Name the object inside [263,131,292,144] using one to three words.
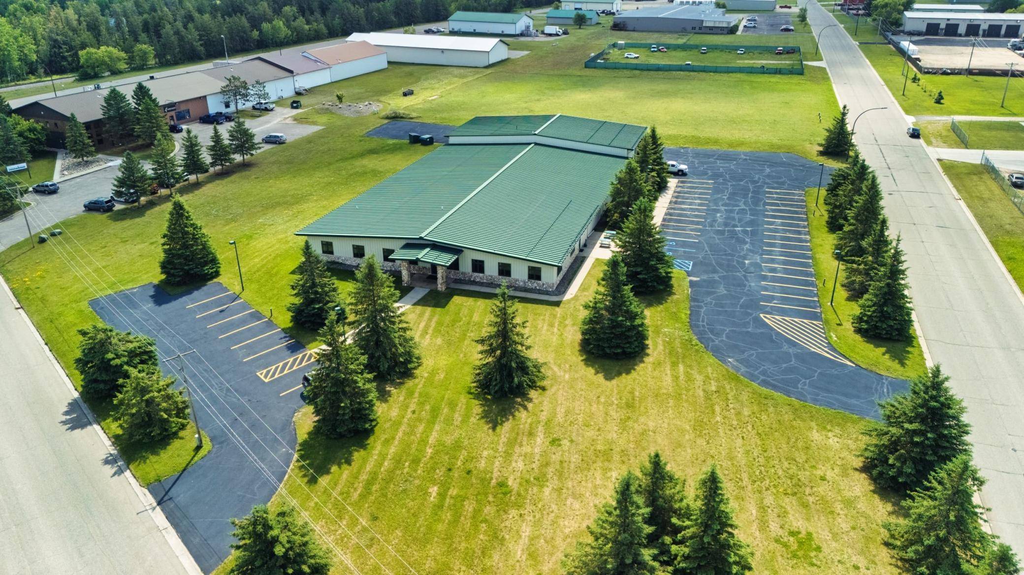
vehicle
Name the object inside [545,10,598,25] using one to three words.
shed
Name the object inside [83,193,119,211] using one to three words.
car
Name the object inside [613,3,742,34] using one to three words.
building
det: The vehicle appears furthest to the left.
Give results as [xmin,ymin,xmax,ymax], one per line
[31,177,64,193]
